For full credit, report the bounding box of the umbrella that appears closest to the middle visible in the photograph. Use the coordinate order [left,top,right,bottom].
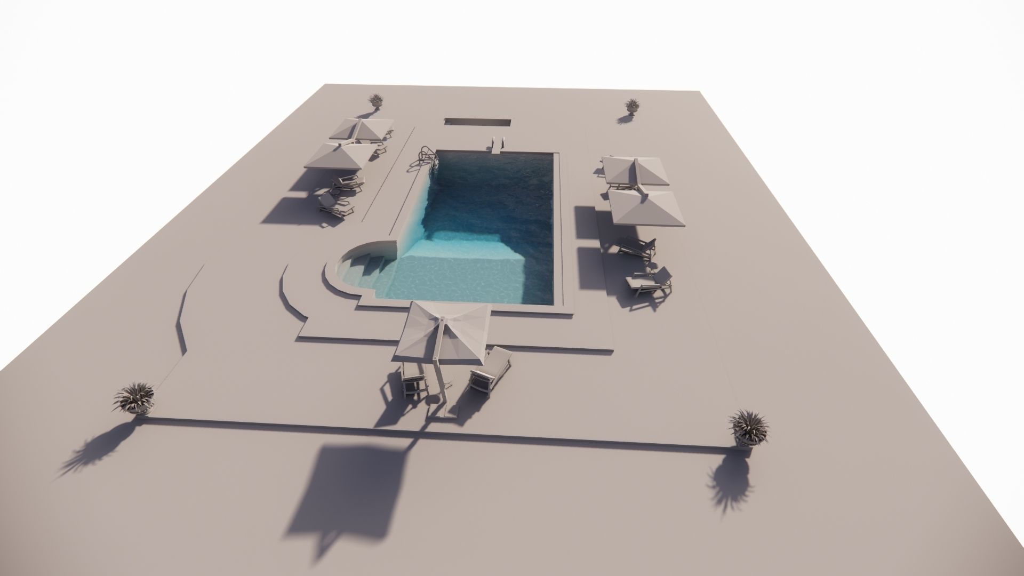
[392,299,492,419]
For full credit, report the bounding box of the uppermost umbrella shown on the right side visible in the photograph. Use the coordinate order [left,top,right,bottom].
[602,155,686,226]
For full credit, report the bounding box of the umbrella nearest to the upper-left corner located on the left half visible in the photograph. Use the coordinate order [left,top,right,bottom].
[303,117,394,173]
